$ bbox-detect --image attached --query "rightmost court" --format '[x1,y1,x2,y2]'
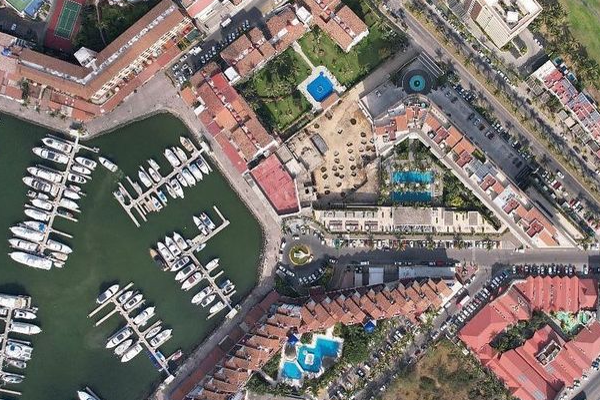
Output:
[44,0,85,49]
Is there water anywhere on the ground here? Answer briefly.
Yes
